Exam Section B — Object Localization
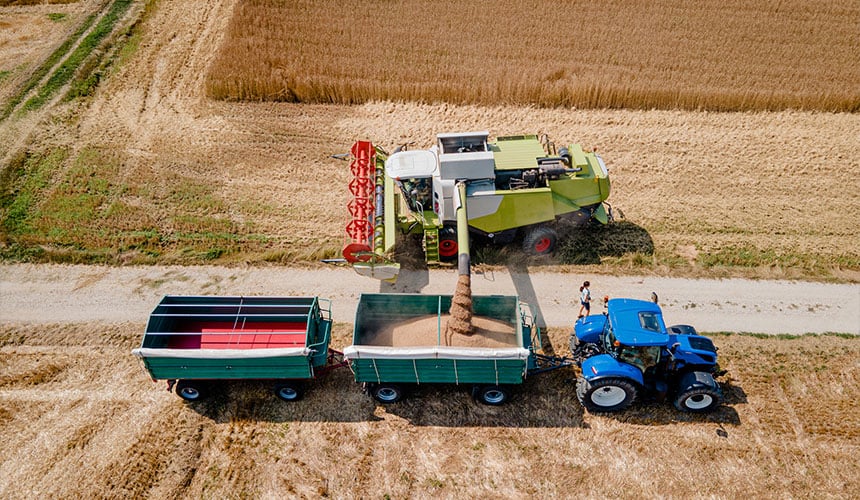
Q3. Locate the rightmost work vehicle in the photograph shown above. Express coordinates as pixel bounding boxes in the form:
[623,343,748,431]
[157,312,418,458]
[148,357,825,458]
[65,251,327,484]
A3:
[560,294,723,415]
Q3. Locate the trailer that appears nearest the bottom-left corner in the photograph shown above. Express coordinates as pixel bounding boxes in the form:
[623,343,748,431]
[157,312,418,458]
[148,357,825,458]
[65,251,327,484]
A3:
[134,294,350,403]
